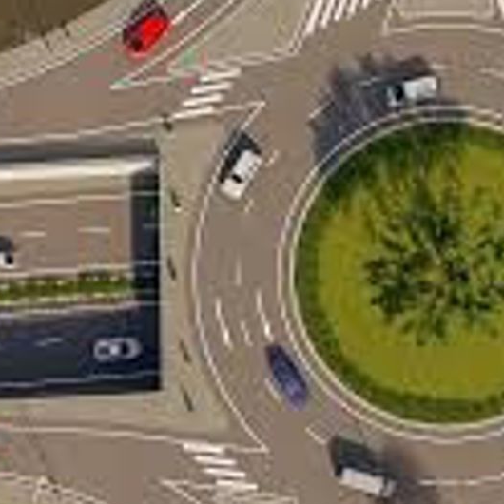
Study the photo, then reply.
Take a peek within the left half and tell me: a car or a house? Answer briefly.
car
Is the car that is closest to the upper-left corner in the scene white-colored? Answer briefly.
No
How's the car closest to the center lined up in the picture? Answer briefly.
on a diagonal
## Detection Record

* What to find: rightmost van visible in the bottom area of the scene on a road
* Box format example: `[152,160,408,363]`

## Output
[335,455,393,493]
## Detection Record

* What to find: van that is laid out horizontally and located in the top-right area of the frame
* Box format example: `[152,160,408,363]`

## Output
[386,75,440,105]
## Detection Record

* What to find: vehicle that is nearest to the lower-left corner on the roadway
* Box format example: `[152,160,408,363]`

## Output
[95,340,140,359]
